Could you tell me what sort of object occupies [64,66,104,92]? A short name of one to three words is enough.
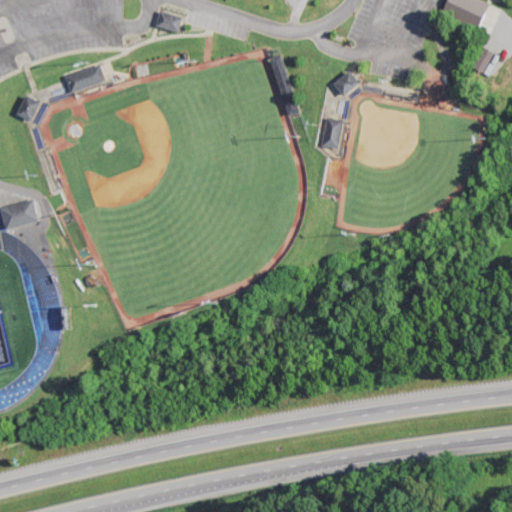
building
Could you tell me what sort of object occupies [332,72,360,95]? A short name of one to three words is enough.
building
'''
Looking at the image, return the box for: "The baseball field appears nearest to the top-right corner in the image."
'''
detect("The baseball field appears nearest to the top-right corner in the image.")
[337,90,488,236]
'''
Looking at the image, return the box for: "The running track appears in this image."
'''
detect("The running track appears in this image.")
[0,229,62,410]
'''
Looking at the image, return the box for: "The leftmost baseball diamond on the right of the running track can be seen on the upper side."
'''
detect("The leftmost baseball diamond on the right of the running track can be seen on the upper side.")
[42,50,306,328]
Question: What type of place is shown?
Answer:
sports ground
